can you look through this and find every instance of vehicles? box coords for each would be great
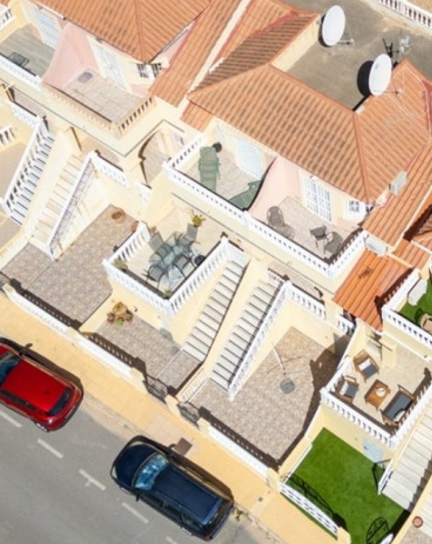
[115,440,236,543]
[0,347,83,433]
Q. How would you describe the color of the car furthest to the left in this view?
red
